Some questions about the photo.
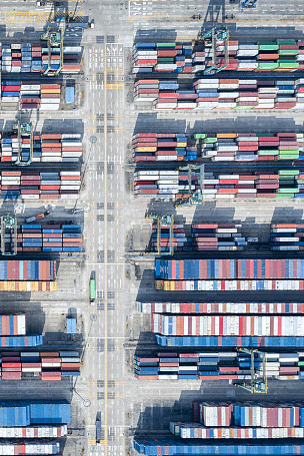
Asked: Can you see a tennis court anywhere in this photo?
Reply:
No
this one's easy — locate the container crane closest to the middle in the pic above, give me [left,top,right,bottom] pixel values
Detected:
[142,212,174,258]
